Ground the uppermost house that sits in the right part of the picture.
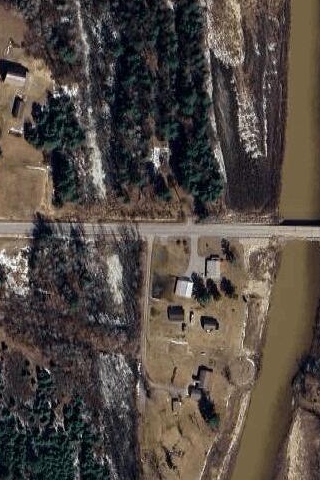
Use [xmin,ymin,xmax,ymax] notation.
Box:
[206,260,225,277]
